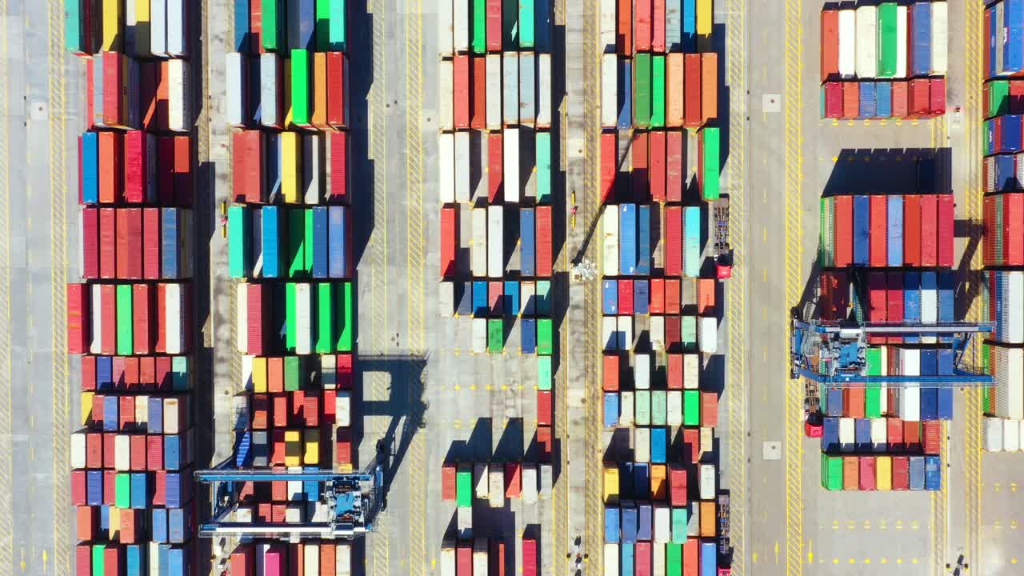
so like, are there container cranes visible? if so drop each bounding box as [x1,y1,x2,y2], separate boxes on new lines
[788,302,996,388]
[196,445,386,539]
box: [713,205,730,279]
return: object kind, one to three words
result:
vehicle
